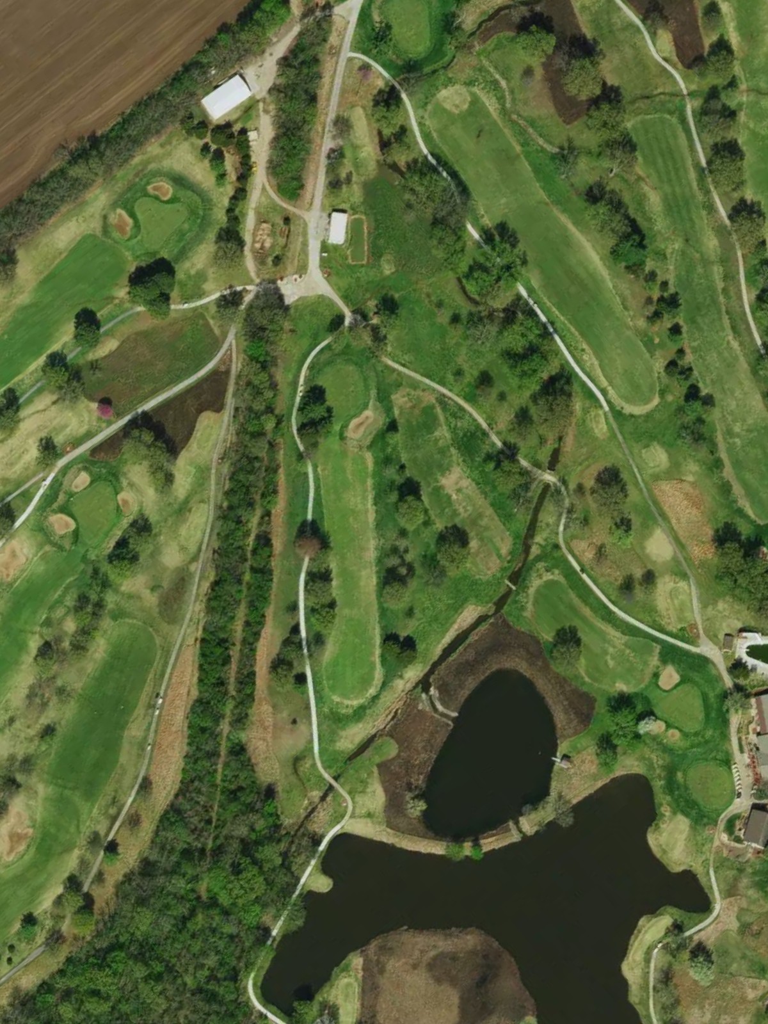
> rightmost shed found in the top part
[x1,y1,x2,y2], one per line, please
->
[329,212,347,243]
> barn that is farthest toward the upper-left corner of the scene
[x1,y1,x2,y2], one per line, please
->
[202,74,251,119]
